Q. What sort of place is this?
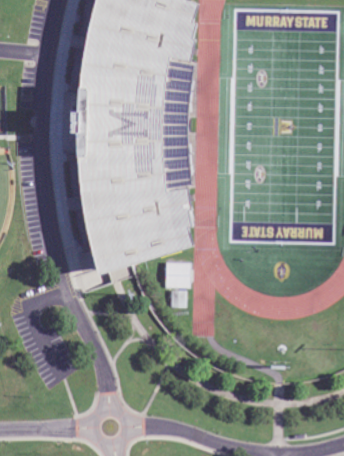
sports ground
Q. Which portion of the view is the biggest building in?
center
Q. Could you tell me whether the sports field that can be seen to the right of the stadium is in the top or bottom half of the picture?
top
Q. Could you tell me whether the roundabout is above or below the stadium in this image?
below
